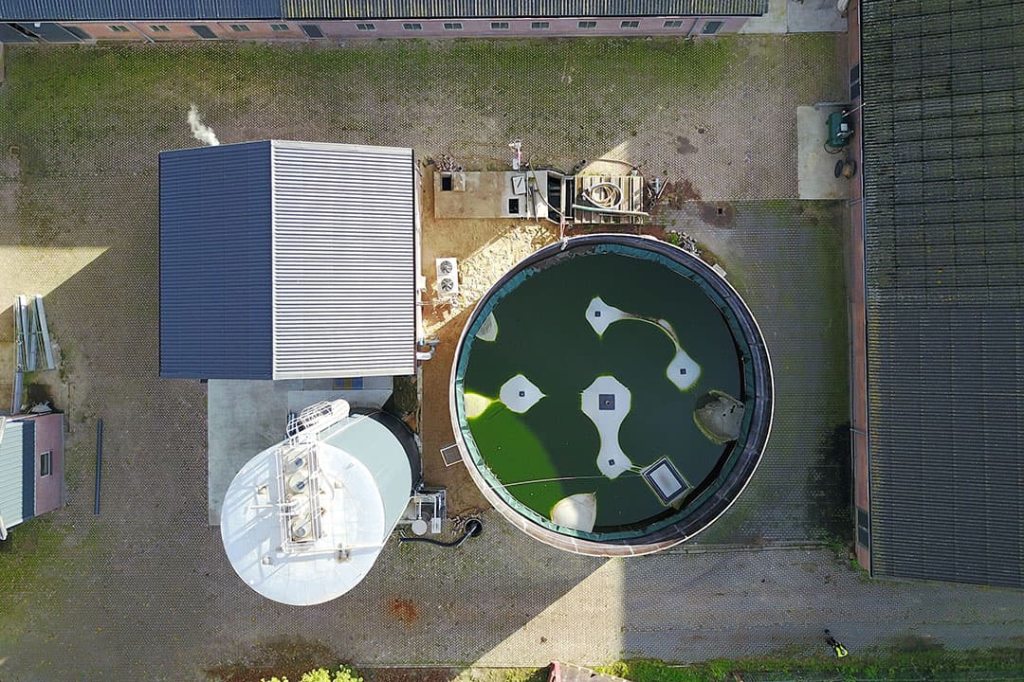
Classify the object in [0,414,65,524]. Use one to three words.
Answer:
house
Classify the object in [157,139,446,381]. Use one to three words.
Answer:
shed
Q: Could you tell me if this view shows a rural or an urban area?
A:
urban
